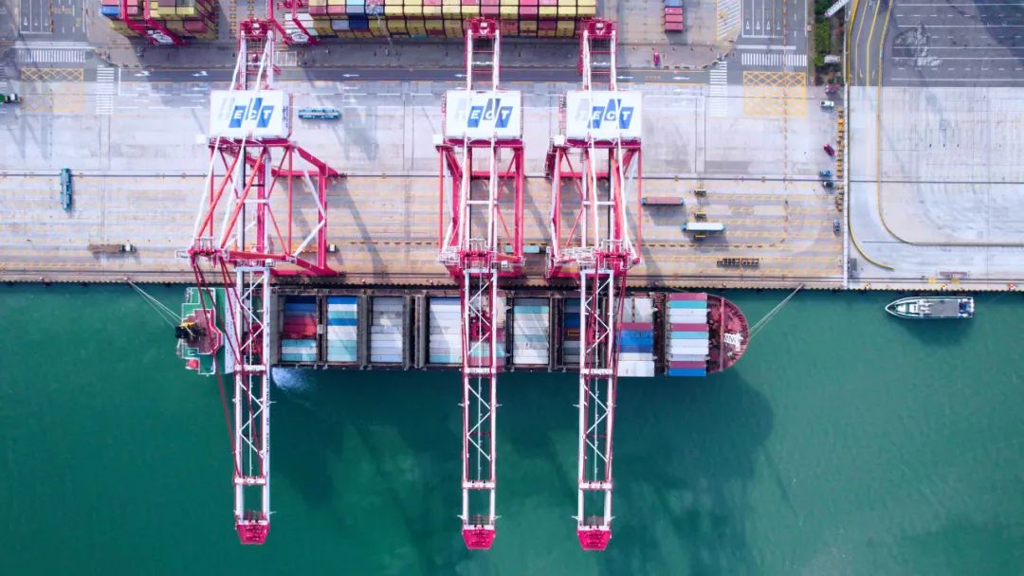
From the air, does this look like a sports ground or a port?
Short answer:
port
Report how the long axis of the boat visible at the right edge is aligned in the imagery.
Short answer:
from side to side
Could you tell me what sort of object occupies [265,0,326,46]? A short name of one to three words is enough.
container crane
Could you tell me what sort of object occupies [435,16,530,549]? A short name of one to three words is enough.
container crane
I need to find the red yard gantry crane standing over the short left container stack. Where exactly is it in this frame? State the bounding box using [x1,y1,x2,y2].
[111,0,188,45]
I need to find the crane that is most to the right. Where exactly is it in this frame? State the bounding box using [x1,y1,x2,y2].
[539,17,647,550]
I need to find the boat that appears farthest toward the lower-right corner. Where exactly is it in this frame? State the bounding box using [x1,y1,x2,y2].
[886,296,976,318]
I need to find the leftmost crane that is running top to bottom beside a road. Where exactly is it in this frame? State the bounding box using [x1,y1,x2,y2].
[188,14,346,547]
